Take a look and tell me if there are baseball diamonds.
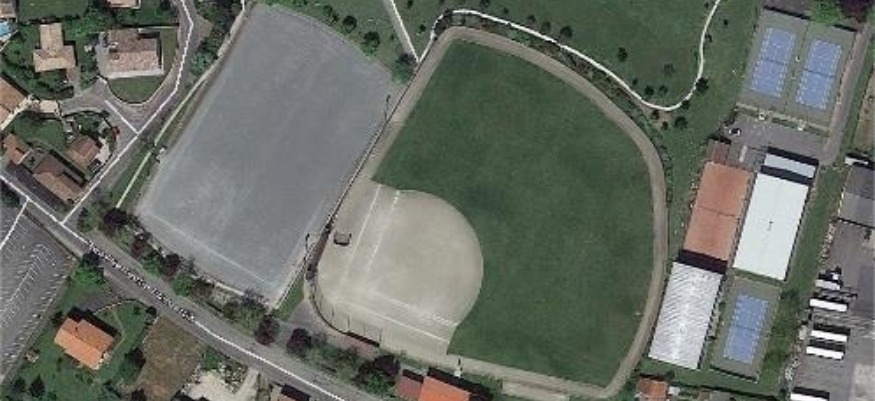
Yes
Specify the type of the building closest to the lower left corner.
house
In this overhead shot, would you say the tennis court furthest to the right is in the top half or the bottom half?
top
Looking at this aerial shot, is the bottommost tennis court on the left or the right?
right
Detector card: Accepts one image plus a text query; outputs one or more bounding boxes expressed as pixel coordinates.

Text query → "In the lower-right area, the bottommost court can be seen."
[712,275,781,380]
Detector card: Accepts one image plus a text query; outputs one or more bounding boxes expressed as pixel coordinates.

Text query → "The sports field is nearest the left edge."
[132,4,405,309]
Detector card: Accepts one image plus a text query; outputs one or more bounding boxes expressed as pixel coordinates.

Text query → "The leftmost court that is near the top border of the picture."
[735,6,809,118]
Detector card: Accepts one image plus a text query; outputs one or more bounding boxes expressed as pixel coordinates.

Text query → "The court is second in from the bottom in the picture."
[681,159,755,274]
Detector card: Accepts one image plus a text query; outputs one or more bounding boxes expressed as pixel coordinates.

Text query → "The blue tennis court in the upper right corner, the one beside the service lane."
[785,20,857,133]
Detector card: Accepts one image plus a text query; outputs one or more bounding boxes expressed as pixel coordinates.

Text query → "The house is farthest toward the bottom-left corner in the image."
[53,317,115,369]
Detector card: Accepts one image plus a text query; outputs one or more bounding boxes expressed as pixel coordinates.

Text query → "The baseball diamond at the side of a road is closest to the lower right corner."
[308,25,668,399]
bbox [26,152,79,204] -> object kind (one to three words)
house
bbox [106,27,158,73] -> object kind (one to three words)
house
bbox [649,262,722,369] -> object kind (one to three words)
building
